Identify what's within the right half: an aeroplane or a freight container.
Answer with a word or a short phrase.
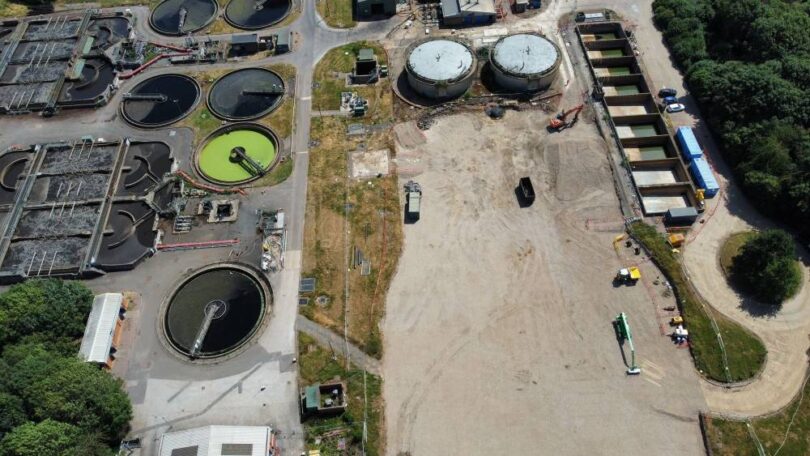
freight container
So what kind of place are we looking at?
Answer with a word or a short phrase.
industrial area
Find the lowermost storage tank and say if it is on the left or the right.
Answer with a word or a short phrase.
left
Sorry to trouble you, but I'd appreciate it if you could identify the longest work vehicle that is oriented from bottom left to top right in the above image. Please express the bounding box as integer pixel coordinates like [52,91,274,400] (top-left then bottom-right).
[545,107,580,133]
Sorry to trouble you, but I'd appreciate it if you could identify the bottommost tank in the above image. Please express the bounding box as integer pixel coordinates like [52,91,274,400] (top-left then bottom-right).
[158,262,271,362]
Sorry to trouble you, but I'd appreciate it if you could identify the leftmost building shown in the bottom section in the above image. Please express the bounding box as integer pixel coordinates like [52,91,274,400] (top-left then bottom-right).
[79,292,127,369]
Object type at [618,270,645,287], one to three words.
vehicle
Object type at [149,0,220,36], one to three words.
storage tank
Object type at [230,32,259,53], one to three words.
building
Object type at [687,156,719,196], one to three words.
shipping container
